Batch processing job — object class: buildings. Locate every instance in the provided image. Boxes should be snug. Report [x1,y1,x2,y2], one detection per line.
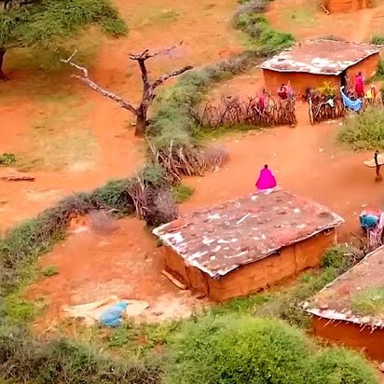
[154,193,346,305]
[257,41,384,102]
[327,0,374,16]
[298,248,384,356]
